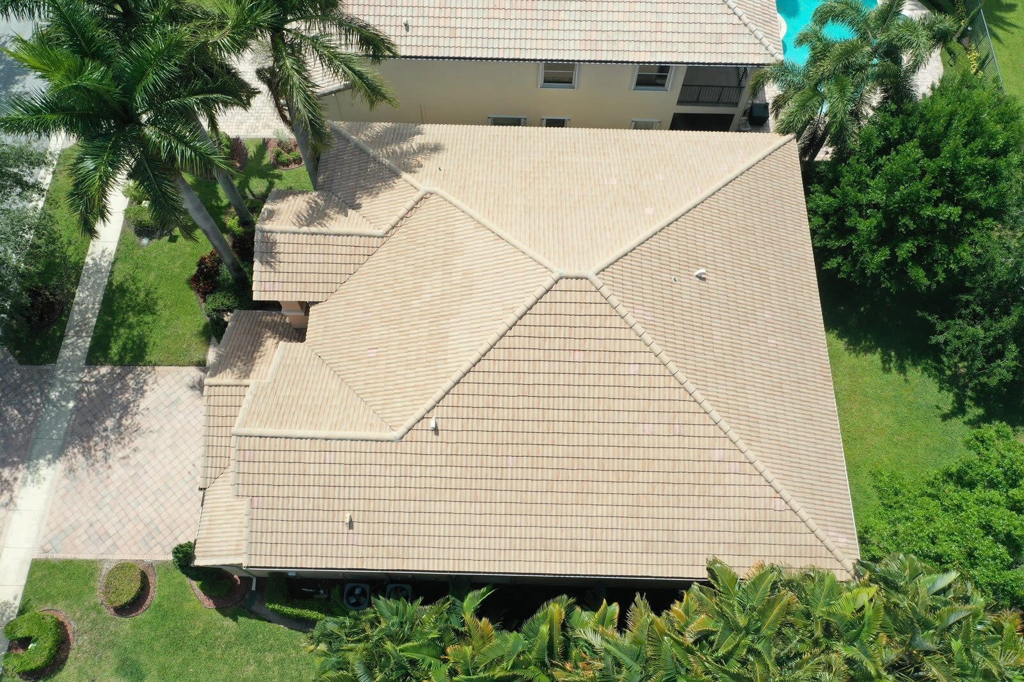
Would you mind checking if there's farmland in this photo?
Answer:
No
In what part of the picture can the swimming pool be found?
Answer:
top right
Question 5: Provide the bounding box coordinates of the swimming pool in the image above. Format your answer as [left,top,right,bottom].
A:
[775,0,881,113]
